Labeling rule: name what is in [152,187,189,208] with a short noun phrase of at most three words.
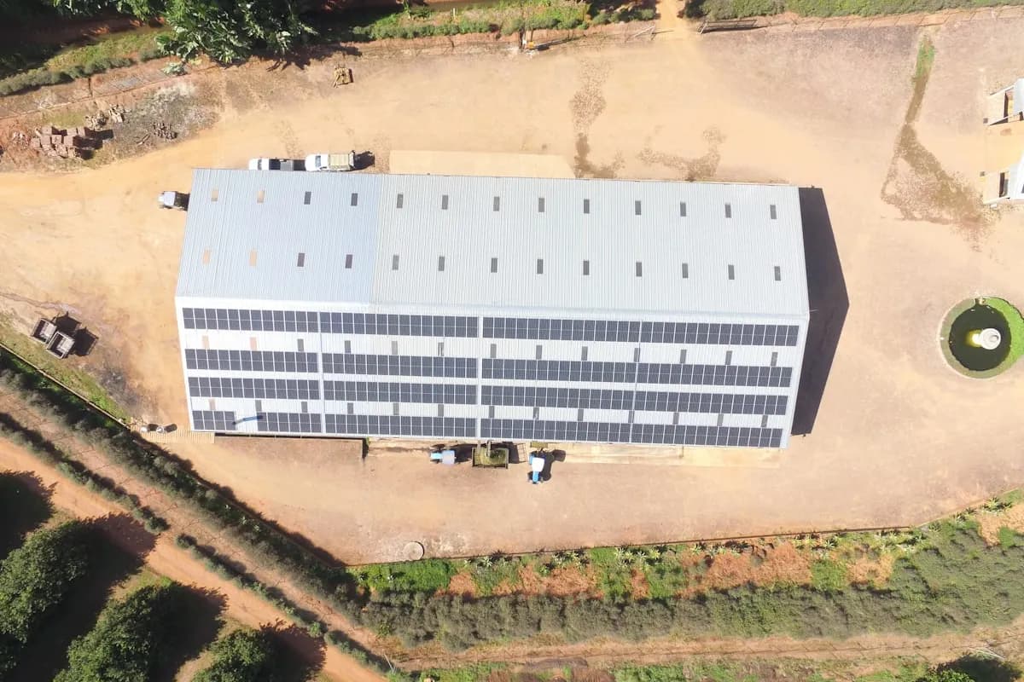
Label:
work vehicle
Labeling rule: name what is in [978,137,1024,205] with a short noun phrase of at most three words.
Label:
shed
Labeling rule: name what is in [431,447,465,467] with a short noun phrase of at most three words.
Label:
work vehicle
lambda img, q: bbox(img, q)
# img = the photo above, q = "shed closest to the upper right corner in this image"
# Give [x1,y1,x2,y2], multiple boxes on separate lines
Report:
[984,78,1024,127]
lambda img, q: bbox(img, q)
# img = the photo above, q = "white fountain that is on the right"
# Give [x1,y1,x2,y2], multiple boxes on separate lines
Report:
[967,325,1002,349]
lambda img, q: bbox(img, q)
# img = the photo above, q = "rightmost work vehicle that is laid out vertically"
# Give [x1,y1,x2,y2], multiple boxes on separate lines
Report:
[529,442,547,481]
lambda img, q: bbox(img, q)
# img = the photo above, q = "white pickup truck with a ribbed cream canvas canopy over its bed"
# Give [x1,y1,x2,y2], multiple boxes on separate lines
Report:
[305,147,358,172]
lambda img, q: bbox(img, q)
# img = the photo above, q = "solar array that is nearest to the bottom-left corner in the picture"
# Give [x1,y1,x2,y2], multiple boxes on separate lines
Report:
[190,410,236,430]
